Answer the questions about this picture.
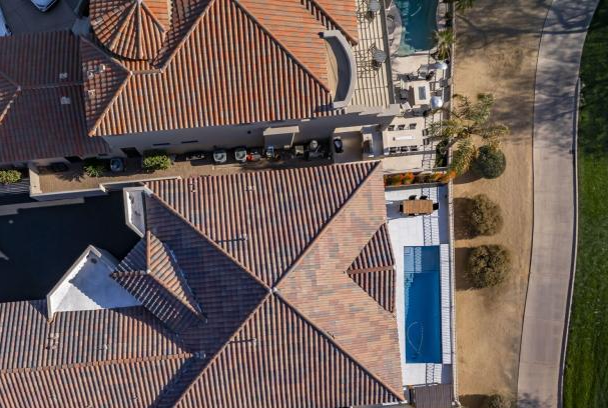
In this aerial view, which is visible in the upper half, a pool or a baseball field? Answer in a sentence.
The one visible in the upper half is a pool.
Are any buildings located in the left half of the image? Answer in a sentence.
Yes, a building can be seen in the left half of the image.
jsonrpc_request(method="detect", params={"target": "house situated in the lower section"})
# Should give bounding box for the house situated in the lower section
[0,161,405,408]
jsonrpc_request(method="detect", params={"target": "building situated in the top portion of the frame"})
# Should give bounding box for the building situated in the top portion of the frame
[0,0,400,170]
